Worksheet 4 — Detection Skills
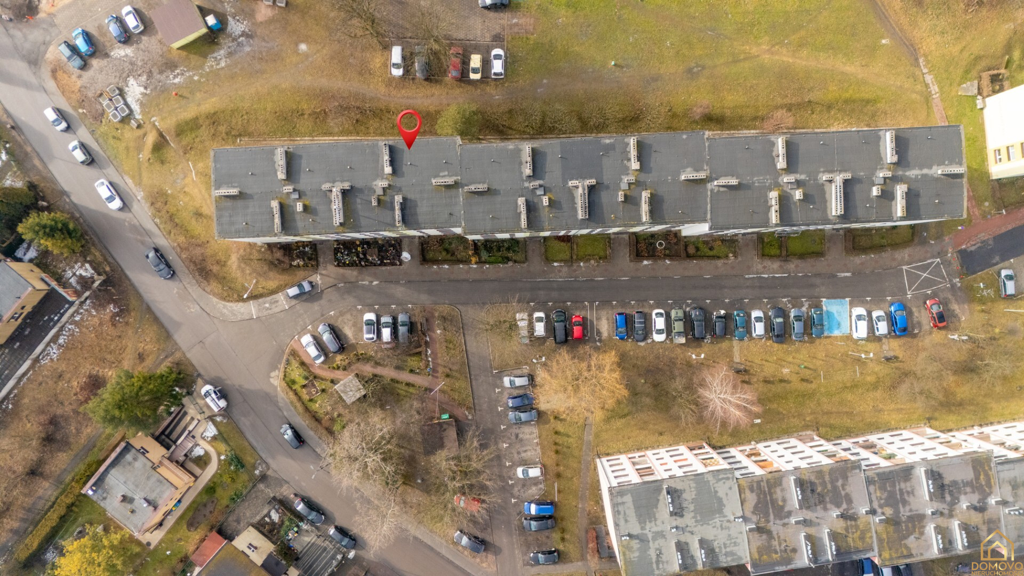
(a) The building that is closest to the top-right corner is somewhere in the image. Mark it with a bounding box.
[982,84,1024,179]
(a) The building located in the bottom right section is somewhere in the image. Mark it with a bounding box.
[595,421,1024,576]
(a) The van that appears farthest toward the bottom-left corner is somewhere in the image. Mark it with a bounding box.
[200,383,229,415]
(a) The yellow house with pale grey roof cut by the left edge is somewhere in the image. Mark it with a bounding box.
[0,260,53,335]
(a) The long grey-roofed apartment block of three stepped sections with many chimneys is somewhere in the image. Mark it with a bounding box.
[212,125,966,248]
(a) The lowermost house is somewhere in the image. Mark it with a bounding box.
[192,519,305,576]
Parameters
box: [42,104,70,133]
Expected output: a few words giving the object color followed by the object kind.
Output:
white car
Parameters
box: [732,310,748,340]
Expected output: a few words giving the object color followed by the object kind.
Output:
blue car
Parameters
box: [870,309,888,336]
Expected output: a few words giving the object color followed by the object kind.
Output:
white car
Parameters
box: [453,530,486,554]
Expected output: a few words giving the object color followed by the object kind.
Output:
gray car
